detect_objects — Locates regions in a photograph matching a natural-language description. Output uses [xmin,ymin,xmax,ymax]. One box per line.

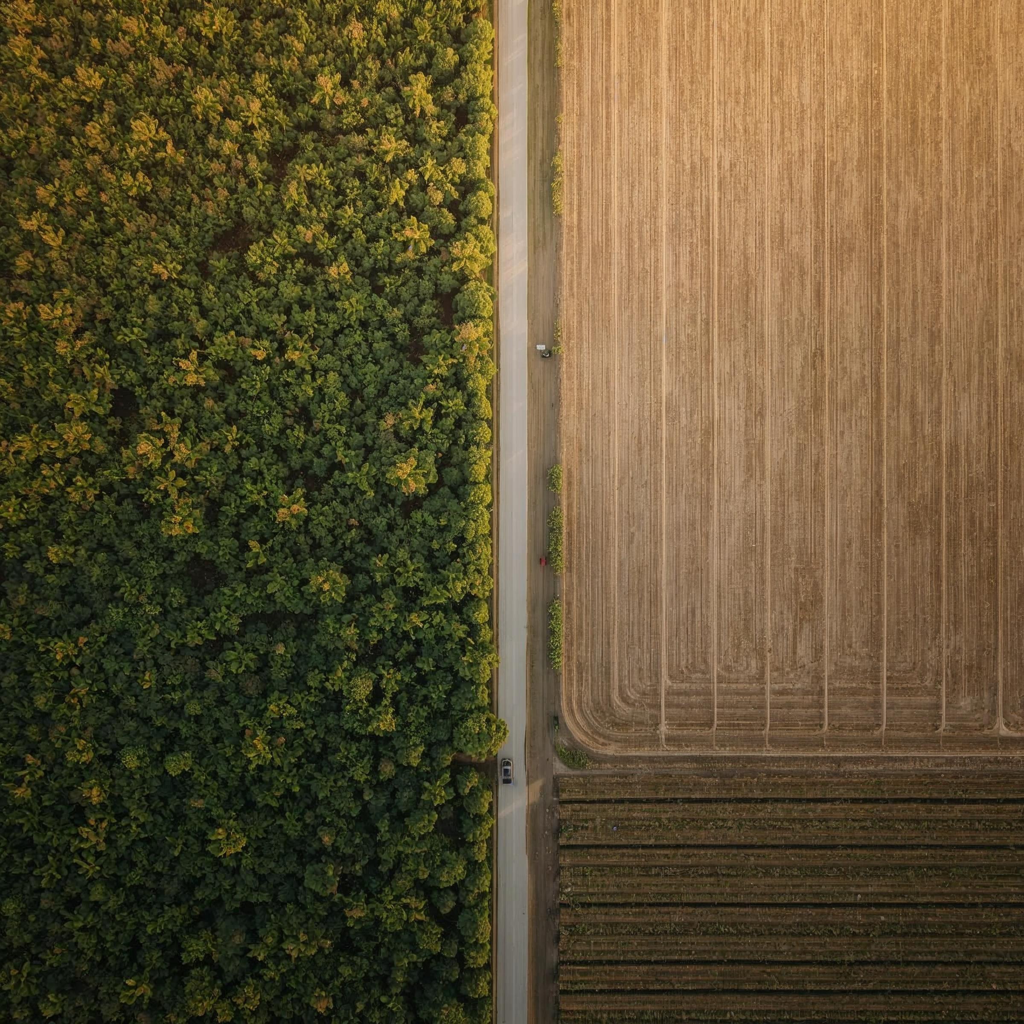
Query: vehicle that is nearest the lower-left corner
[502,758,514,786]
